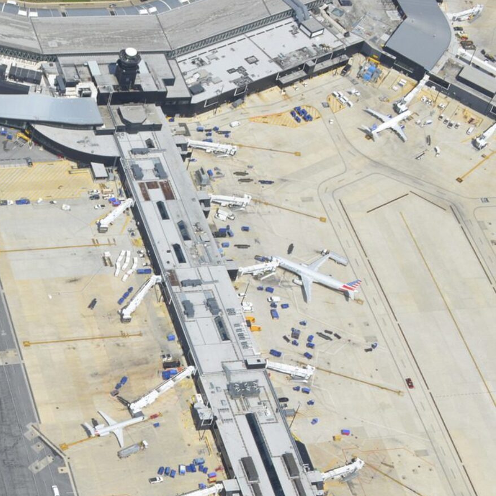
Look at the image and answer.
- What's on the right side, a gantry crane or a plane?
plane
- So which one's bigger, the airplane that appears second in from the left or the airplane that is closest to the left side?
the airplane that appears second in from the left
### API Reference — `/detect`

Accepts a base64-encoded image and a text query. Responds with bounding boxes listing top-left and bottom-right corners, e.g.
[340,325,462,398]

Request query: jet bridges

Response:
[397,76,430,116]
[99,198,132,235]
[447,5,482,24]
[475,123,496,151]
[132,366,194,419]
[187,140,239,158]
[323,457,366,484]
[209,195,254,212]
[190,483,224,496]
[266,361,319,382]
[233,259,281,281]
[122,275,161,325]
